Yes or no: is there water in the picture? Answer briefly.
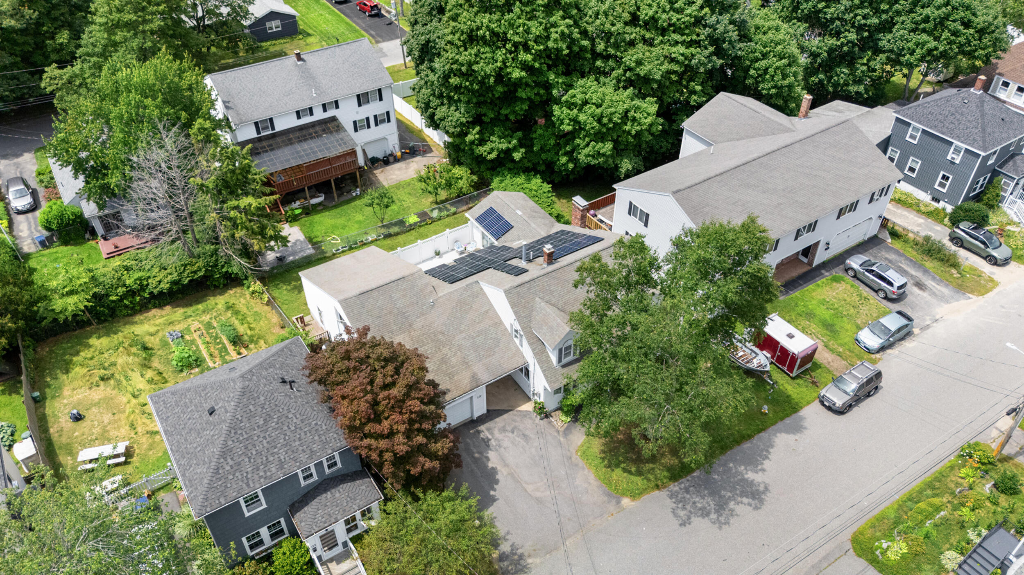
No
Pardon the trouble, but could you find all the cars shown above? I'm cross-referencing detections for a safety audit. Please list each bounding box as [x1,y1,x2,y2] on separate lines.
[357,0,378,15]
[854,310,920,352]
[847,259,914,302]
[4,172,37,210]
[816,358,888,415]
[946,223,1017,263]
